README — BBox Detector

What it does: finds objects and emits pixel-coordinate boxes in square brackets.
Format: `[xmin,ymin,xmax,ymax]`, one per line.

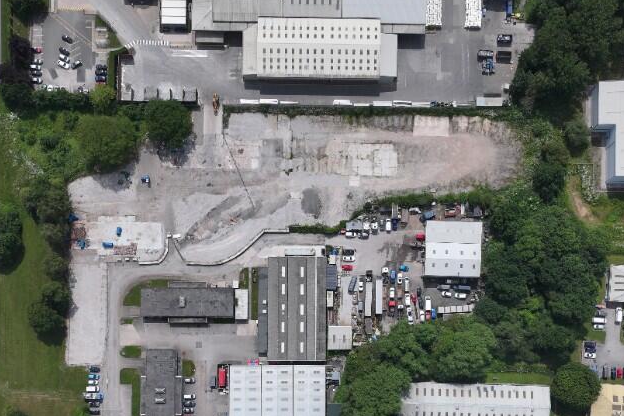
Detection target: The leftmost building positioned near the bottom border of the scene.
[141,349,184,416]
